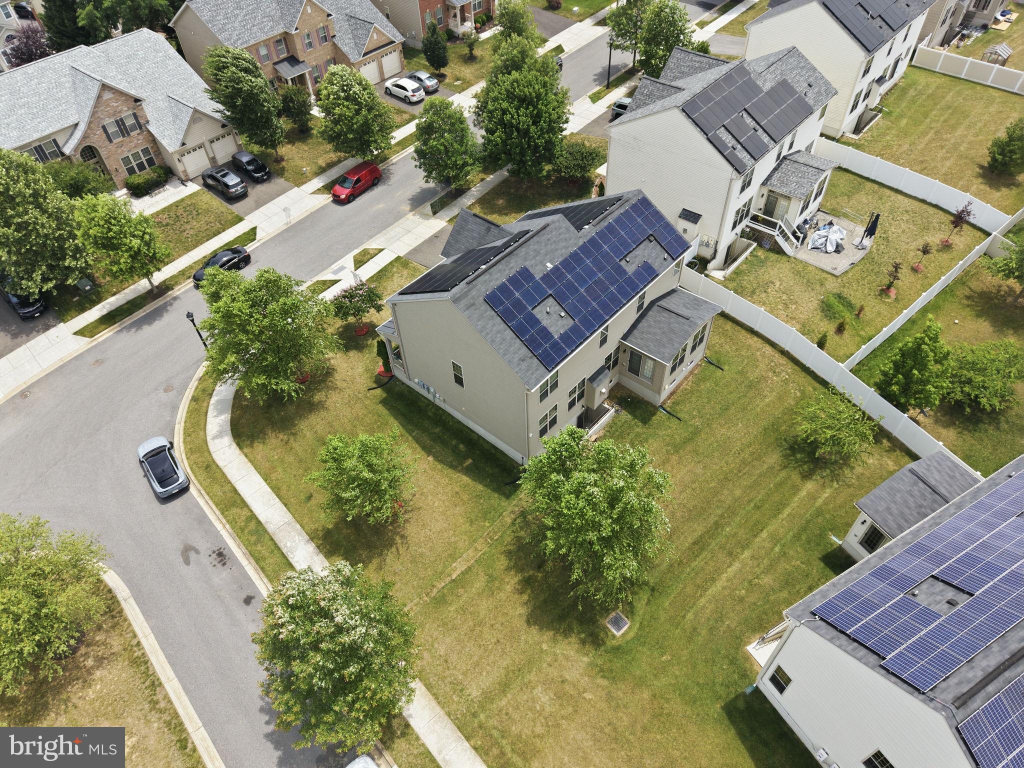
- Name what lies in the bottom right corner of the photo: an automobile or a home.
home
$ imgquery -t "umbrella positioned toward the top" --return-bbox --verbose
[851,208,878,252]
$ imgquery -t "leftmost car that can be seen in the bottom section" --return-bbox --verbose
[136,437,192,510]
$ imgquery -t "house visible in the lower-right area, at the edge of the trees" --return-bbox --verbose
[746,450,1024,768]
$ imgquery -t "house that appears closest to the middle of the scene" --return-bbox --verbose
[374,188,721,465]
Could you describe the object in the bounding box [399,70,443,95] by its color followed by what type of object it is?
gray car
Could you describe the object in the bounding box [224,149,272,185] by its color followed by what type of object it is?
black car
